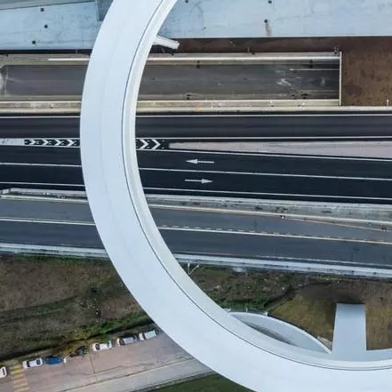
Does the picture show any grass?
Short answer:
Yes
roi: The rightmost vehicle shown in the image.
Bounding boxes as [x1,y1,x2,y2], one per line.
[136,327,157,342]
